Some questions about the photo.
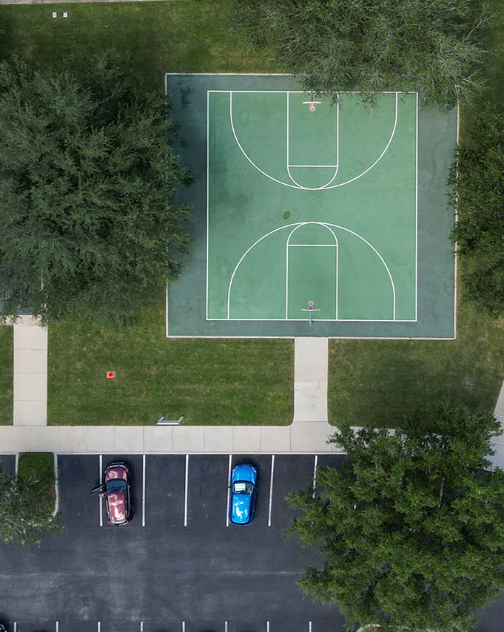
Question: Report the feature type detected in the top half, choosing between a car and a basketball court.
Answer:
basketball court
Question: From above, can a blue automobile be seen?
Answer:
Yes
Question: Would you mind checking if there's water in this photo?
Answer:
No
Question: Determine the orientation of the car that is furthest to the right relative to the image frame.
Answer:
from top to bottom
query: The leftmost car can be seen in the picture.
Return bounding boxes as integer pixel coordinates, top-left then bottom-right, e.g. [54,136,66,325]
[90,464,133,528]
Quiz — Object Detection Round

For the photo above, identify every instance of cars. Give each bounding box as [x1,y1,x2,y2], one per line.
[229,467,258,527]
[90,464,133,528]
